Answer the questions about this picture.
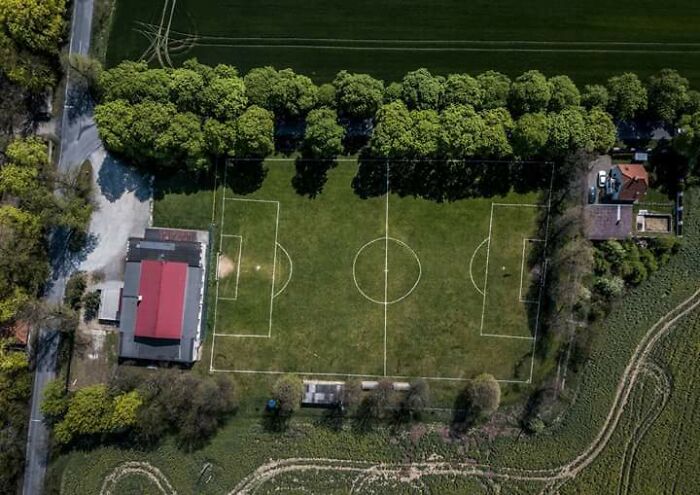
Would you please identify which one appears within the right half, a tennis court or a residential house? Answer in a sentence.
It is a residential house that can be seen within the right half.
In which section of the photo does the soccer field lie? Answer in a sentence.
The soccer field sits in the center section of the image.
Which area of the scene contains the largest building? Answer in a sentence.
Look in the left portion of the view to spot the largest building.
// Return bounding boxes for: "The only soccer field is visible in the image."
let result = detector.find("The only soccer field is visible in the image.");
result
[204,155,560,388]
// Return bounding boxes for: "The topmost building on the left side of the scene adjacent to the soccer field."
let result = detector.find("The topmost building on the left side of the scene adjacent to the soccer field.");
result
[120,228,213,364]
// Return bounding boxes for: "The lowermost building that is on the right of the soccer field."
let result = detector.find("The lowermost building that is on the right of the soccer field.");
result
[581,204,632,239]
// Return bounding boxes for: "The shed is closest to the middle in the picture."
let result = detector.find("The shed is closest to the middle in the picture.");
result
[301,375,343,403]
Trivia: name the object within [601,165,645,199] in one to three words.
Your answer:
house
